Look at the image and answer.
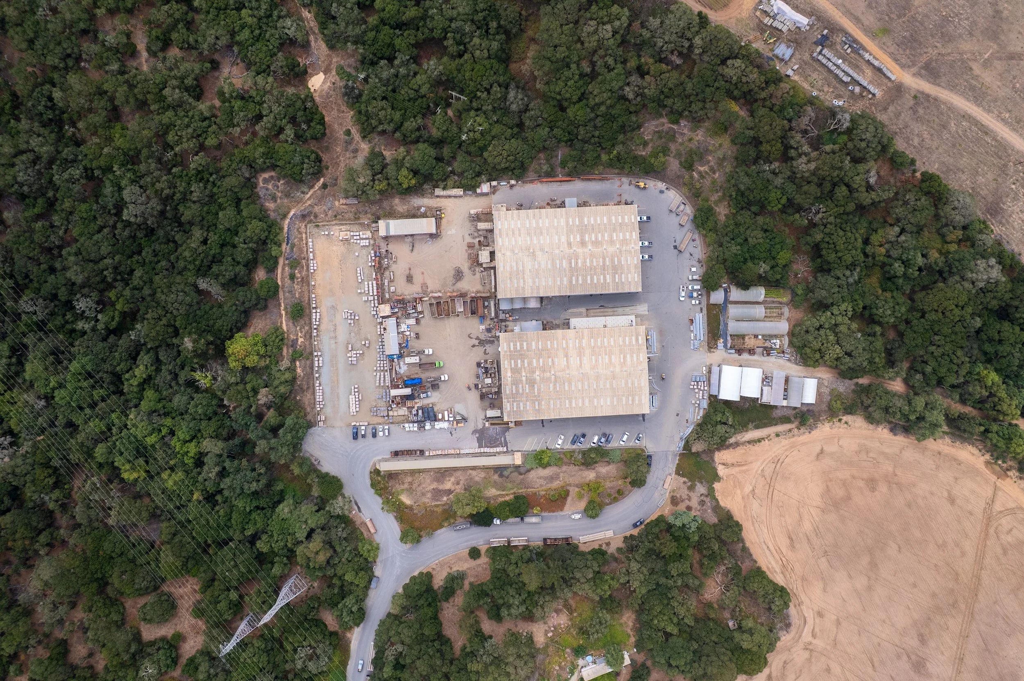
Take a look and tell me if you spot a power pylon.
Yes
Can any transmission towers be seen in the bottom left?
Yes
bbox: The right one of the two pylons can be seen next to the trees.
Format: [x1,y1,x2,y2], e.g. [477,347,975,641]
[257,571,313,629]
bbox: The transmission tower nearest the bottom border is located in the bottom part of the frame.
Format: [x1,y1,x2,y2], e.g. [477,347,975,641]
[219,621,260,659]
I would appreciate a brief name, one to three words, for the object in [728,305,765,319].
greenhouse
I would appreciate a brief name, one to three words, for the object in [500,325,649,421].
building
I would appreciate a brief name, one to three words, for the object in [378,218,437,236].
shed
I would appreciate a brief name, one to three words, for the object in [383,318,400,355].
building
